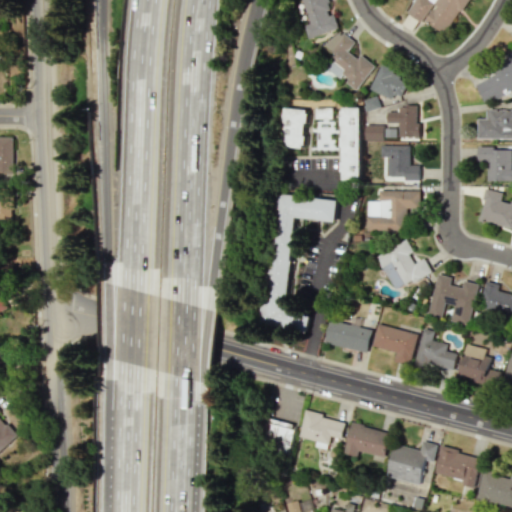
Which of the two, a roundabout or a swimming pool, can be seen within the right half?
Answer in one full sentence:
It is a swimming pool that can be seen within the right half.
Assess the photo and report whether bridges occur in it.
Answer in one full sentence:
Yes, the image includes a bridge.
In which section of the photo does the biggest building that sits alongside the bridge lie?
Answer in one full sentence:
Look in the center portion of the view to spot the biggest building that sits alongside the bridge.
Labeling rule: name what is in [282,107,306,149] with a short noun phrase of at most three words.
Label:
building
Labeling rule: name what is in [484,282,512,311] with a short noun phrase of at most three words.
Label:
house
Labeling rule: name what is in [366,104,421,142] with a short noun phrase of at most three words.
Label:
house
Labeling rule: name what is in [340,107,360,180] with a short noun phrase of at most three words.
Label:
building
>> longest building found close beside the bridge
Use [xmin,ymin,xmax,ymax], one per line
[262,194,336,325]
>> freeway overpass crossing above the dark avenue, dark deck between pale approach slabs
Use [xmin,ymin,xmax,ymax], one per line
[97,262,218,406]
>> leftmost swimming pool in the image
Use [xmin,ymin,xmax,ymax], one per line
[309,66,338,90]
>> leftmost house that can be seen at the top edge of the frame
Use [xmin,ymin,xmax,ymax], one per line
[302,0,338,38]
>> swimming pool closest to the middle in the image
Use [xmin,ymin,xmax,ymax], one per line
[375,280,409,301]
